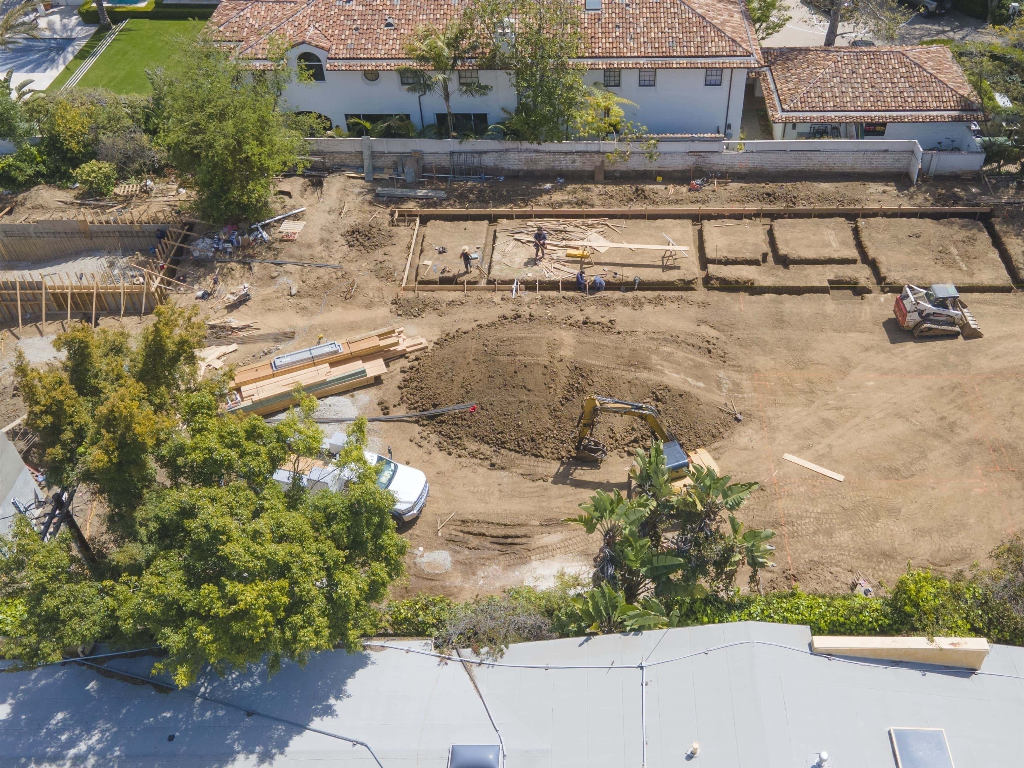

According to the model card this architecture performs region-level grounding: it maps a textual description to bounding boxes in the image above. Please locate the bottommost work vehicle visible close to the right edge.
[893,280,990,345]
